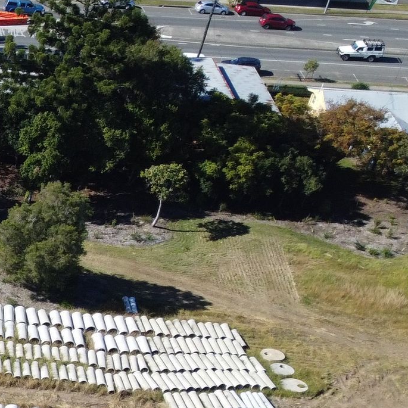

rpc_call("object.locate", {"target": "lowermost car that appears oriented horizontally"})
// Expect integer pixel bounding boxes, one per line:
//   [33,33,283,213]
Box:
[224,53,264,70]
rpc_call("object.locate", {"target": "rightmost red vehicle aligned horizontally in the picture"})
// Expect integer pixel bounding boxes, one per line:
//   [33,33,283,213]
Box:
[260,11,298,30]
